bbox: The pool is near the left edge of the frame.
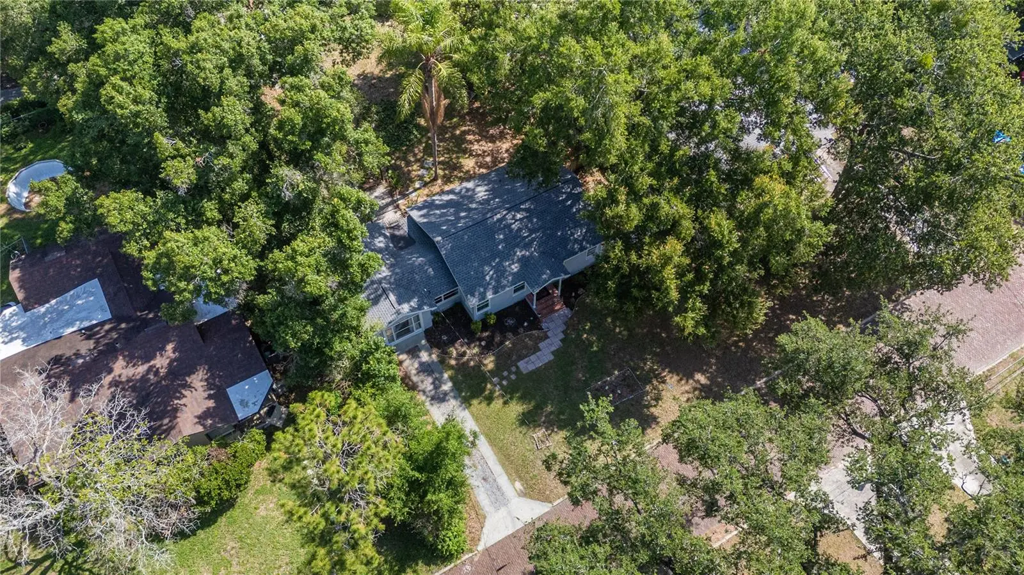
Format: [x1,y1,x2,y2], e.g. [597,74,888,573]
[3,157,70,209]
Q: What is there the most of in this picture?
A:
trees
